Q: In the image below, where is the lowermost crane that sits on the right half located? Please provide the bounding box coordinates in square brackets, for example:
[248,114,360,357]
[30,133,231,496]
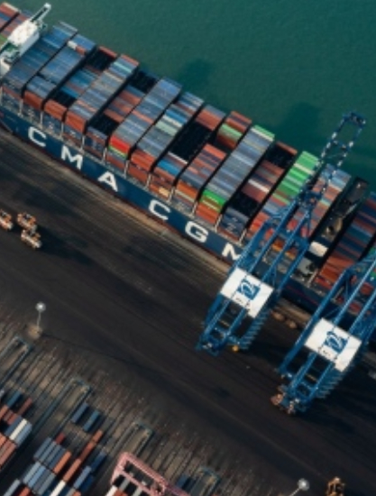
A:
[270,251,376,421]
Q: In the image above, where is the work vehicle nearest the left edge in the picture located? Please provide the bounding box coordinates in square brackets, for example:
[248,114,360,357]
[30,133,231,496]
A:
[0,209,20,234]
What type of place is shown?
port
